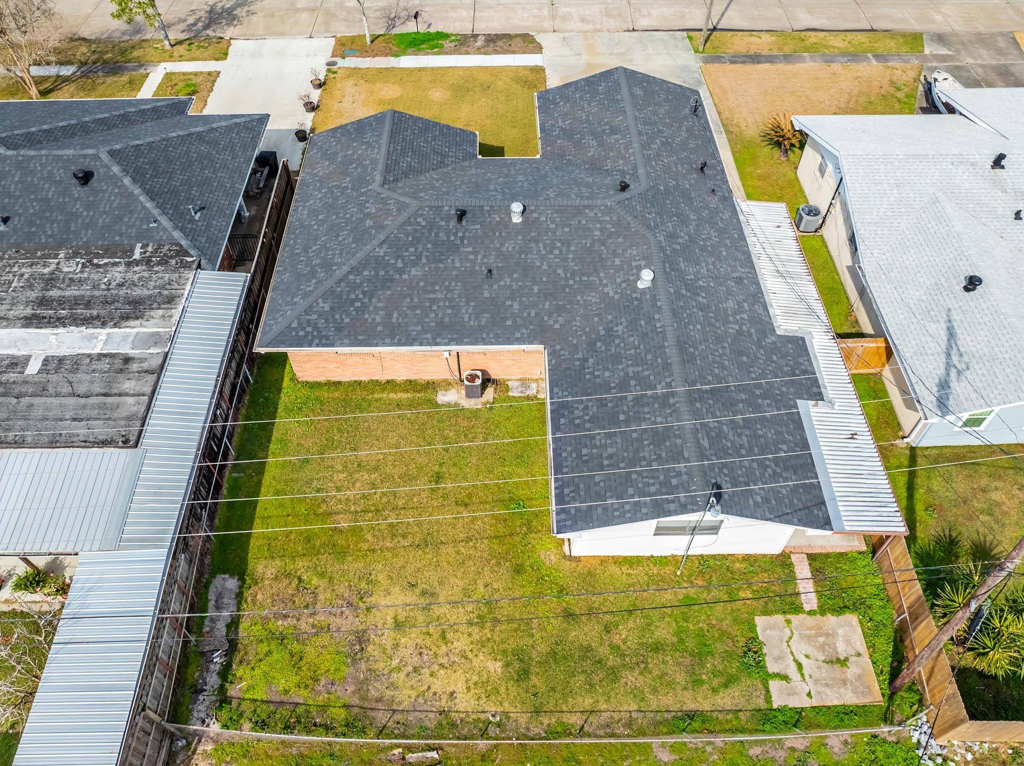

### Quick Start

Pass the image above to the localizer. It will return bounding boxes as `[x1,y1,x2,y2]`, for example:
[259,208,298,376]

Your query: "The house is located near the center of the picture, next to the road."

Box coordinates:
[252,63,835,557]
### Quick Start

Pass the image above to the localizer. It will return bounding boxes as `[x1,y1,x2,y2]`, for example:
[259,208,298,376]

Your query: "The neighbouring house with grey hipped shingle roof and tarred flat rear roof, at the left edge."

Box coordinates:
[0,97,271,455]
